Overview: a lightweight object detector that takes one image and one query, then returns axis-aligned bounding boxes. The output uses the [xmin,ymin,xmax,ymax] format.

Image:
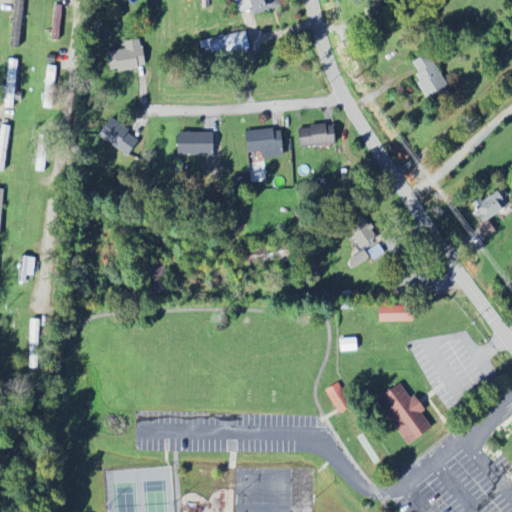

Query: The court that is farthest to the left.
[113,484,138,512]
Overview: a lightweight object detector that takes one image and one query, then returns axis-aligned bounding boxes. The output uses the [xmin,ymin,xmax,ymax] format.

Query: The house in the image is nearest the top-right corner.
[414,54,449,96]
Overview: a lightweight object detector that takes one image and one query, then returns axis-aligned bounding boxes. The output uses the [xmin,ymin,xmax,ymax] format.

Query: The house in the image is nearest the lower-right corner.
[380,384,432,444]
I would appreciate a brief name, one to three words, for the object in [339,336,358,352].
shed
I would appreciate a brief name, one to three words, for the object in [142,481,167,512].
tennis court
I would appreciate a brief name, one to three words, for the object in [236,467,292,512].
basketball court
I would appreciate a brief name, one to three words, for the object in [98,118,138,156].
house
